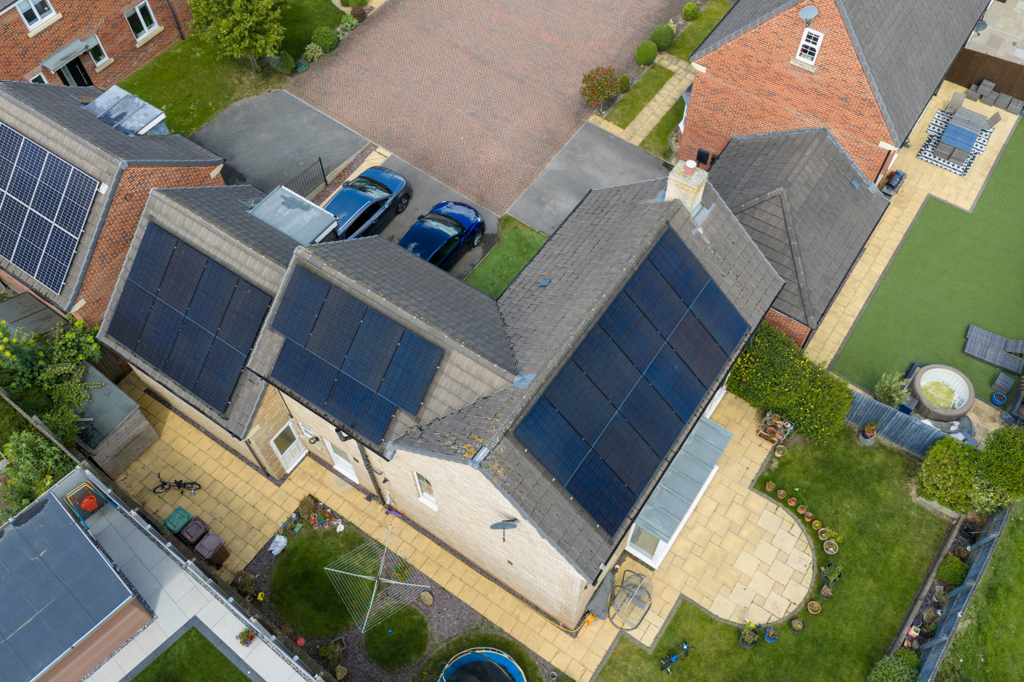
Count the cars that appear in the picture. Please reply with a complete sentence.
My tally gives 2 cars in this view.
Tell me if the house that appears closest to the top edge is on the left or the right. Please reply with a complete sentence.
You can find the house that appears closest to the top edge on the left side of the picture.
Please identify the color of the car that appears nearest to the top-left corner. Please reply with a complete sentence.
The car that appears nearest to the top-left corner looks blue in the image.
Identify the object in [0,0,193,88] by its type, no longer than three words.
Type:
house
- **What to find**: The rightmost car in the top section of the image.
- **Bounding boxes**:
[400,200,487,268]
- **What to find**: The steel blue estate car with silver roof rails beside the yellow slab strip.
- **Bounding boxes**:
[317,164,412,234]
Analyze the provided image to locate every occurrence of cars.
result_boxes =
[317,164,412,234]
[400,200,487,268]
